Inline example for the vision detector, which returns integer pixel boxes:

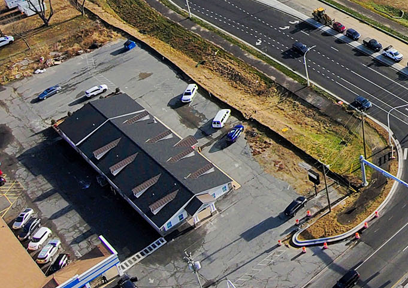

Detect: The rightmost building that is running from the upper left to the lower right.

[53,93,241,242]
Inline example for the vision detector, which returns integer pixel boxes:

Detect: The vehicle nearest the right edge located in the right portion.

[382,47,402,61]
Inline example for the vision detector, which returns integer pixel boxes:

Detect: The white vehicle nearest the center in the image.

[214,105,232,129]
